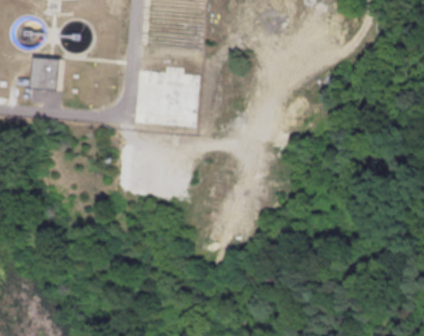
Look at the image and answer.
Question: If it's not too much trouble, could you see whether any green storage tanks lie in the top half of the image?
No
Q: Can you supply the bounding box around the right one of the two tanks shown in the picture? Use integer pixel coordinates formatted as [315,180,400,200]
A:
[58,18,96,56]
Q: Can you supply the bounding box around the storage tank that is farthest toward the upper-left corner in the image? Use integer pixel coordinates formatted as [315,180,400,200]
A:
[9,14,48,52]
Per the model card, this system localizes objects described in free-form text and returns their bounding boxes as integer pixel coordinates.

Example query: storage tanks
[9,14,48,52]
[58,18,96,56]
